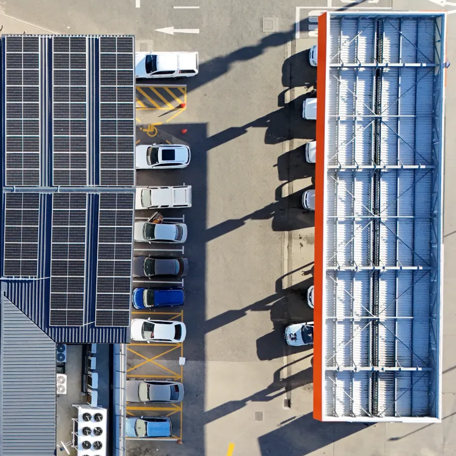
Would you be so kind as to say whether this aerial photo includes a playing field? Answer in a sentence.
No, there appears to be no playing field in this shot.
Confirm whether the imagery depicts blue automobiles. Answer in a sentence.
Yes, there's a blue automobile down there.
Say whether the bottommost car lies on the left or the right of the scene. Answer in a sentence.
The bottommost car appears in the left half of the scene.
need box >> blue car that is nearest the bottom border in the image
[127,414,173,442]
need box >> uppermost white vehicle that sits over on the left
[135,49,201,82]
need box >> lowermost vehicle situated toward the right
[282,319,311,348]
